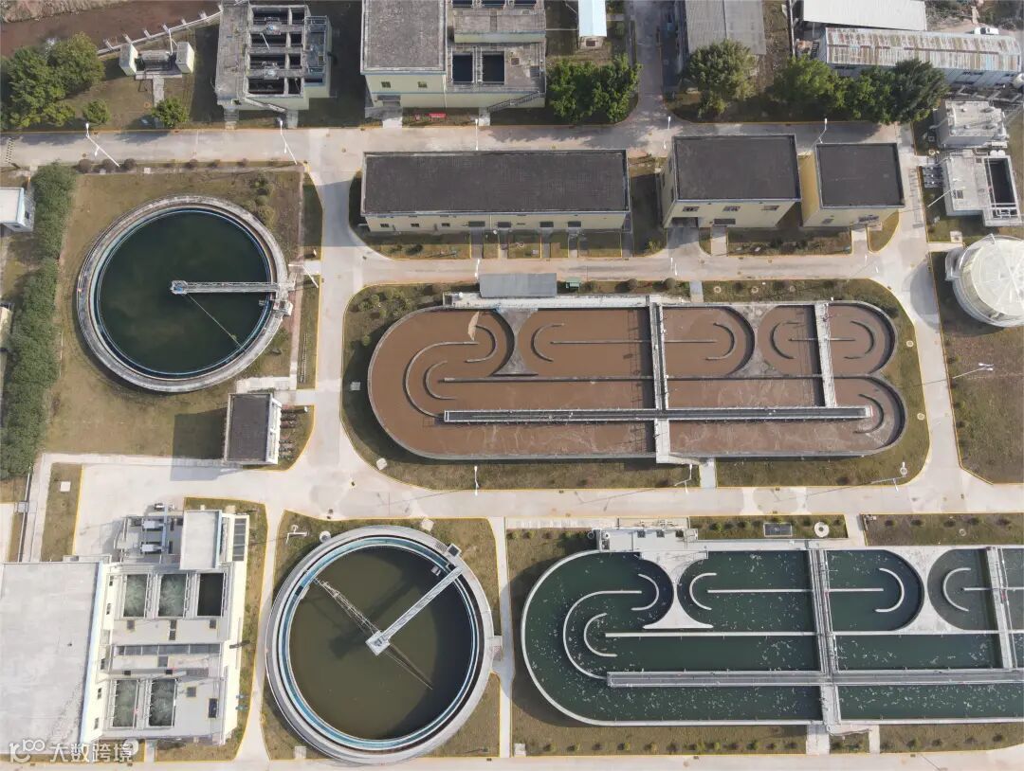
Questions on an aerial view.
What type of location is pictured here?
industrial area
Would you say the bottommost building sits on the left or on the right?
left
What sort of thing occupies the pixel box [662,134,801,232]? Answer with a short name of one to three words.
building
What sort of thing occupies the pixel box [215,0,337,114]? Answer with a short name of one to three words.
storage tank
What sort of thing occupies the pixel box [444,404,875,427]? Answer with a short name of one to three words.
bridge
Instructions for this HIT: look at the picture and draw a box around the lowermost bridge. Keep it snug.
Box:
[607,664,1024,691]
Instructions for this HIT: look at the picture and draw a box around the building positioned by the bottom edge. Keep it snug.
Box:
[0,561,117,745]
